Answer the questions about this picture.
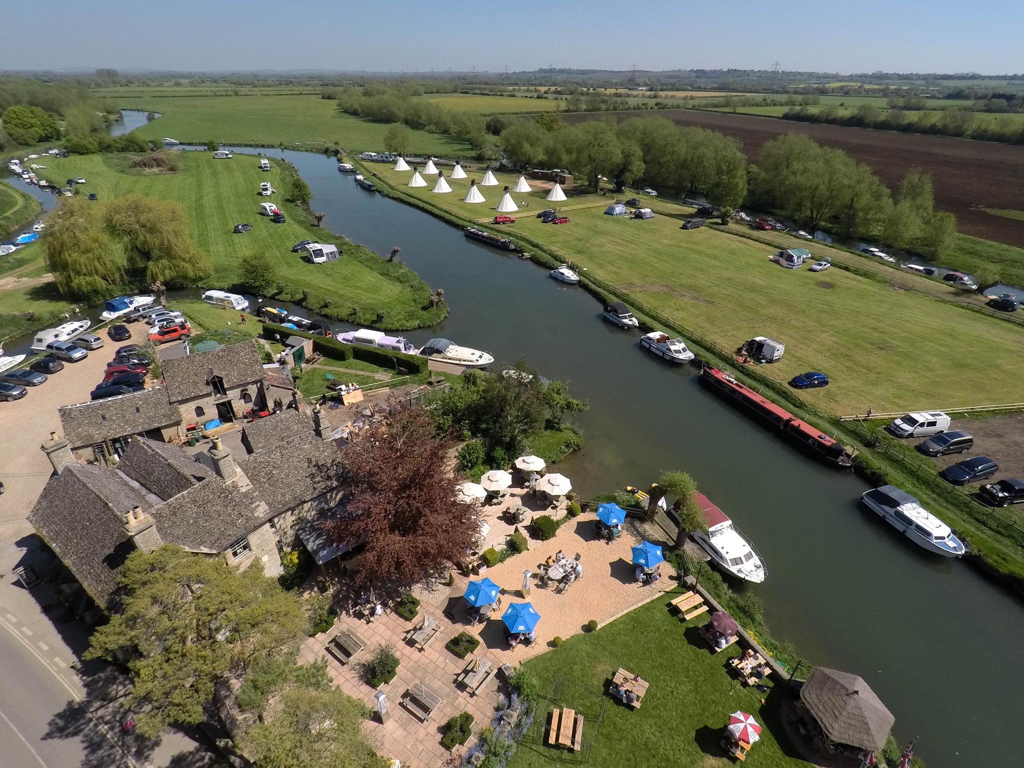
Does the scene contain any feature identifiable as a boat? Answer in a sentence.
Yes, the photo shows a boat.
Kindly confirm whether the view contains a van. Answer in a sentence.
Yes, a van is visible in the scene.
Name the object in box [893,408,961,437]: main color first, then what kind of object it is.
white van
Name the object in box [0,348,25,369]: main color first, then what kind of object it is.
white boat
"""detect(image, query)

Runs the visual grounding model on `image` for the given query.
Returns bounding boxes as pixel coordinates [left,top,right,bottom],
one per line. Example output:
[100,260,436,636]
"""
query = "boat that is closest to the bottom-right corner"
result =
[855,483,976,559]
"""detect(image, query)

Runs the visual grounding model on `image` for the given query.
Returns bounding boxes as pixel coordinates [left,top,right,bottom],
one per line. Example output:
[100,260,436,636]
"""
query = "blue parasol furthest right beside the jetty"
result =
[629,543,664,571]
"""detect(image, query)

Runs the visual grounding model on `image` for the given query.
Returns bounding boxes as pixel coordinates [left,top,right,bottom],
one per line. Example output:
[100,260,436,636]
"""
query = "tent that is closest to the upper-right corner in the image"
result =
[774,247,814,267]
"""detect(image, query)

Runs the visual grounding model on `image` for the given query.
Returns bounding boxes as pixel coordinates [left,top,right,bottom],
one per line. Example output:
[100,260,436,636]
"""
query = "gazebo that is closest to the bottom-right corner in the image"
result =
[791,666,893,768]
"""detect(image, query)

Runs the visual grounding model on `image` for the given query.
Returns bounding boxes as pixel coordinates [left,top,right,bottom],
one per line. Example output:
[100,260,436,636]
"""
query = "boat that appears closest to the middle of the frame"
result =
[501,367,535,380]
